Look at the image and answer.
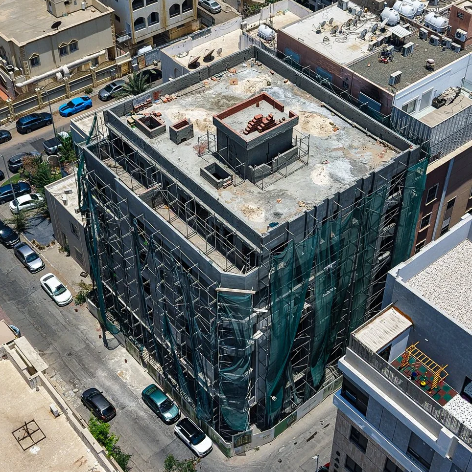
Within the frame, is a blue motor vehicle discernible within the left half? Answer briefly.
Yes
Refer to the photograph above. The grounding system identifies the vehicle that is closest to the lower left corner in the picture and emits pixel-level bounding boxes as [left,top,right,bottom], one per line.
[78,387,121,423]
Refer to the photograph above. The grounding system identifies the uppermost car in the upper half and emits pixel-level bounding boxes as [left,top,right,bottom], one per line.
[198,0,223,14]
